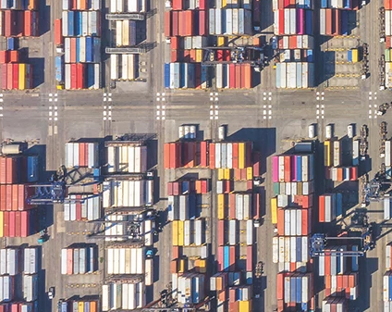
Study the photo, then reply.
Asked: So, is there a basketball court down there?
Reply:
No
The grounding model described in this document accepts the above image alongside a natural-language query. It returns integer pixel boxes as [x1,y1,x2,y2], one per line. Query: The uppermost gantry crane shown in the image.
[202,43,265,68]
